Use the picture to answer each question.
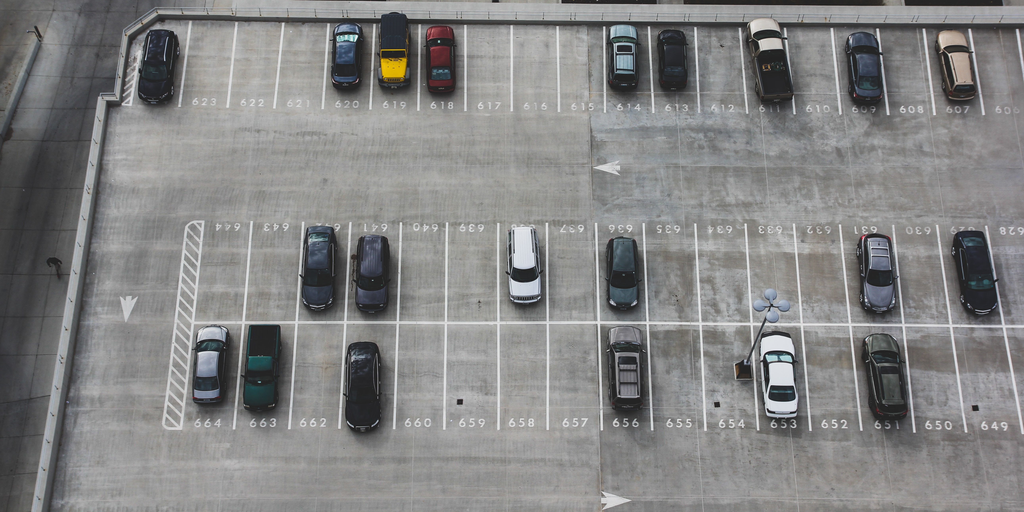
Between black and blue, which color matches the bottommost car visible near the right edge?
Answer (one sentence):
The color of the bottommost car visible near the right edge is black.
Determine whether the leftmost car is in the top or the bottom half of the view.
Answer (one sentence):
The leftmost car is in the top half of the image.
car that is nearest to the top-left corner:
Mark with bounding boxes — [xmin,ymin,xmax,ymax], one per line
[134,29,179,105]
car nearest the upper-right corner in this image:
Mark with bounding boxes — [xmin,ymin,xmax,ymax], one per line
[934,30,977,100]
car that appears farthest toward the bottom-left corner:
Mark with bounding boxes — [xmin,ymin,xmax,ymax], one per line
[191,325,231,404]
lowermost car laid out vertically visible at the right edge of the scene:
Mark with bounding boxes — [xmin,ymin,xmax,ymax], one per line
[952,230,1001,317]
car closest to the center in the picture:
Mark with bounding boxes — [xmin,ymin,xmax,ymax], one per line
[504,226,545,305]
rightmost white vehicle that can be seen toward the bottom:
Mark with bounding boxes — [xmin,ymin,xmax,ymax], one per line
[759,330,799,419]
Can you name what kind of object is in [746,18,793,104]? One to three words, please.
truck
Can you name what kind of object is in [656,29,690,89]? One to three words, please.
car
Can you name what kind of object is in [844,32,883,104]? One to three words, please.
car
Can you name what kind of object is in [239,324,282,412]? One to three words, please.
truck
